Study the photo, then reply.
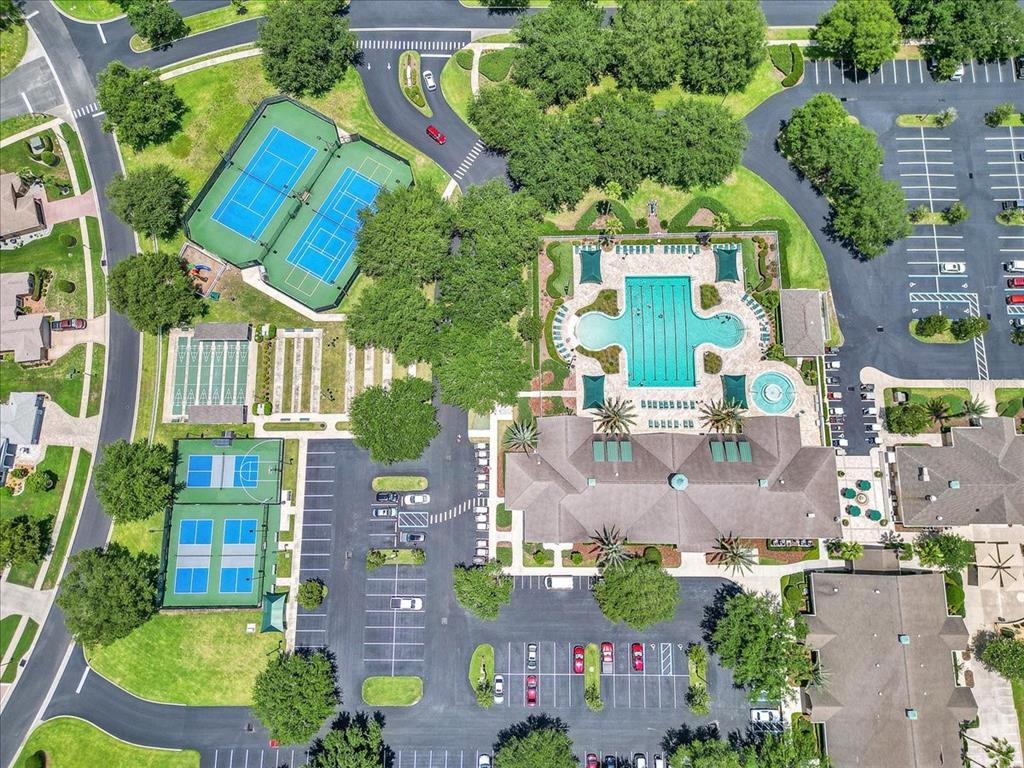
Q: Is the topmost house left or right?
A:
left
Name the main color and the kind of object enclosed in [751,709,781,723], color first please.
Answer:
white car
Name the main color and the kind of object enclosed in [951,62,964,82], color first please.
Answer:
white vehicle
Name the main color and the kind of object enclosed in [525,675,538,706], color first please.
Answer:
red vehicle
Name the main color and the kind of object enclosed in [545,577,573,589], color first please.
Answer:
white vehicle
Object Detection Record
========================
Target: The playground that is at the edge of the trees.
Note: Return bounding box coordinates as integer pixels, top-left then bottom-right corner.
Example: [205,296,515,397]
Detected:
[177,241,227,298]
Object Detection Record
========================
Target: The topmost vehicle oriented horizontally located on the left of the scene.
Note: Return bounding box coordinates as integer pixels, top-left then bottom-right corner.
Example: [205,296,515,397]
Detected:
[51,318,87,331]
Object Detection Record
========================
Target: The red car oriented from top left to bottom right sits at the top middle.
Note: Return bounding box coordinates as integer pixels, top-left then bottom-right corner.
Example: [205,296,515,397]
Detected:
[425,123,447,145]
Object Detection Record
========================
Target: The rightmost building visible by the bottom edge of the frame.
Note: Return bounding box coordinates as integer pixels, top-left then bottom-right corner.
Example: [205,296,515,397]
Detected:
[802,572,980,768]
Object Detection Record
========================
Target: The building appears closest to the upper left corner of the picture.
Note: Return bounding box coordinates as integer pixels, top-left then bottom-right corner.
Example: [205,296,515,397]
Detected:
[0,172,46,242]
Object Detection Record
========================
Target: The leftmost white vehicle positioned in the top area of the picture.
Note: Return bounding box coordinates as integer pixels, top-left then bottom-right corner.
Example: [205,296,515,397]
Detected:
[422,70,438,92]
